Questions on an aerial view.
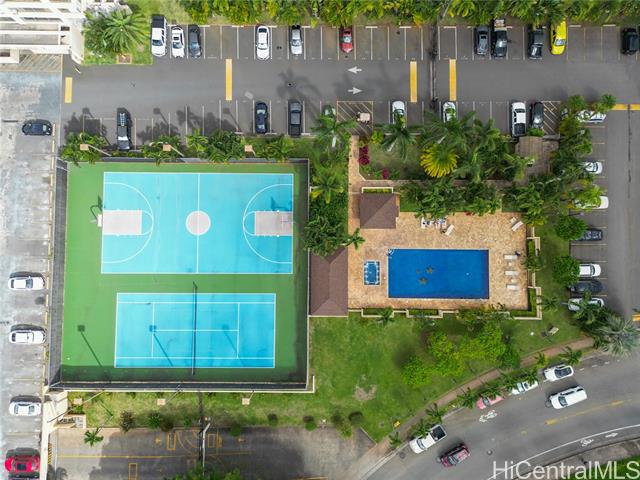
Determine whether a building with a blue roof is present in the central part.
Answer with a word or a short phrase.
No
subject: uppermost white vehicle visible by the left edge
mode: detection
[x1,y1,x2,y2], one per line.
[8,275,47,291]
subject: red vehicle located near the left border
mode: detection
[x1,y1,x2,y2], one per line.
[4,455,42,475]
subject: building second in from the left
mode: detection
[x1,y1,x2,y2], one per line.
[309,247,348,316]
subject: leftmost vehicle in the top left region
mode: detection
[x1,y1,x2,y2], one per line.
[21,120,53,136]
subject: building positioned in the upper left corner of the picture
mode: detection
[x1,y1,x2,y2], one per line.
[0,0,96,68]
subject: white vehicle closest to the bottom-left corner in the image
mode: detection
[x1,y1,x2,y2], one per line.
[7,400,43,418]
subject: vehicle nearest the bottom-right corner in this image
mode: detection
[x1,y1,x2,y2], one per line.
[548,386,589,410]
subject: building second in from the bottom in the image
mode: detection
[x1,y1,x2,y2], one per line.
[360,193,396,229]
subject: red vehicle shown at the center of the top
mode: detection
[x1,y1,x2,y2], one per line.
[339,26,354,54]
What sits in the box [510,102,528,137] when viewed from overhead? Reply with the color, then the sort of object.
white vehicle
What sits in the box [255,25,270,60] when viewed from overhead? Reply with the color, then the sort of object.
white car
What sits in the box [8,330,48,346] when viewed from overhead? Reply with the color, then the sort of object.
white car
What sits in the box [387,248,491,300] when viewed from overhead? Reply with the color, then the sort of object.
blue swimming pool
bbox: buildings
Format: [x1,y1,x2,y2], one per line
[360,193,396,229]
[309,247,348,316]
[0,0,96,68]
